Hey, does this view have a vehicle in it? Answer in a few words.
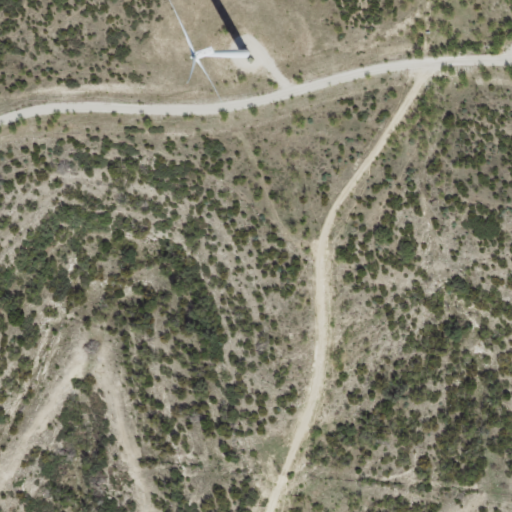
No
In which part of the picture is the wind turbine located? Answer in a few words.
top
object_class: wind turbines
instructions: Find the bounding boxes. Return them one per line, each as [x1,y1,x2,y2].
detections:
[170,0,252,98]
